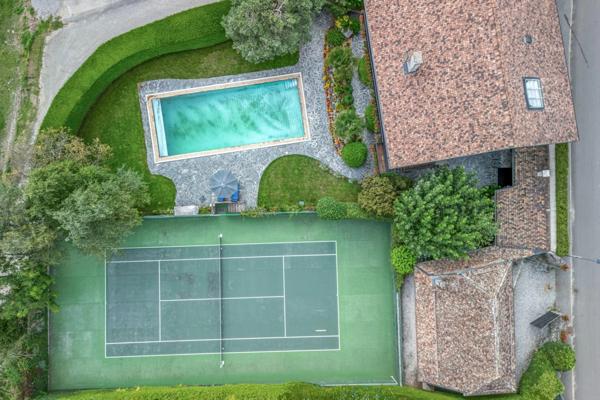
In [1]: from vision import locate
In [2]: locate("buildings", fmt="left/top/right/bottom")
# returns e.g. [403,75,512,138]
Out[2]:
[411,249,548,396]
[361,0,580,169]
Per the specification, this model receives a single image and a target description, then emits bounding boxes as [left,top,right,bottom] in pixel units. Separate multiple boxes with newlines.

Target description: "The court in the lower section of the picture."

[47,217,399,391]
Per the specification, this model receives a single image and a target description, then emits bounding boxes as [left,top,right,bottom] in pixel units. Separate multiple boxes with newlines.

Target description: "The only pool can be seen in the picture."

[145,71,310,163]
